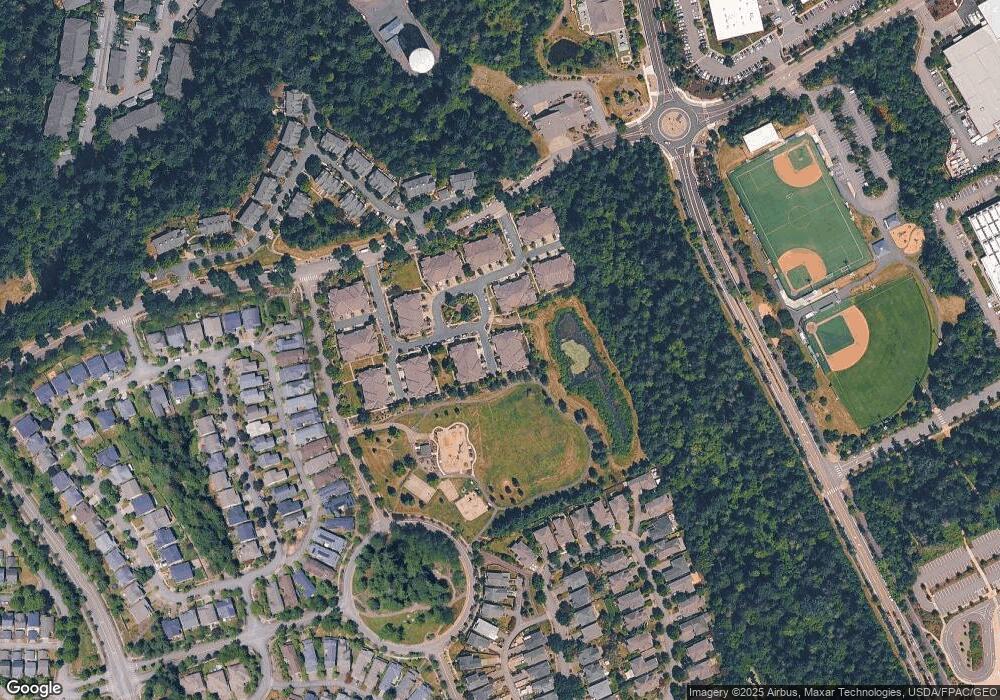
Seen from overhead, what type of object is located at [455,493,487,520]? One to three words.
sports court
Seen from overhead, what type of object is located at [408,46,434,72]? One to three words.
water tank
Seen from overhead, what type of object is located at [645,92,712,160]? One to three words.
roundabout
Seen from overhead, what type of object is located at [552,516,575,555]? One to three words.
house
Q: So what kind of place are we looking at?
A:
residential area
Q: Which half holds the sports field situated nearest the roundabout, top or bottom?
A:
top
